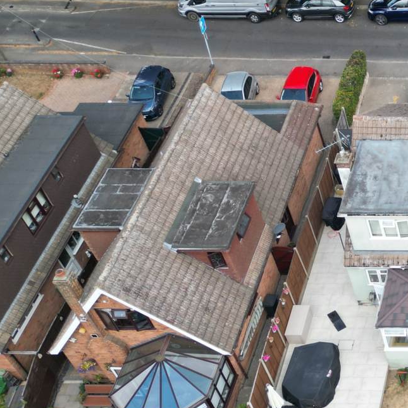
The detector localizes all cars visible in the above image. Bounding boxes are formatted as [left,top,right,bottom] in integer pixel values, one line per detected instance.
[273,69,323,106]
[286,0,362,21]
[369,0,408,24]
[216,71,262,106]
[122,65,185,128]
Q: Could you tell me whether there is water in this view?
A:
No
